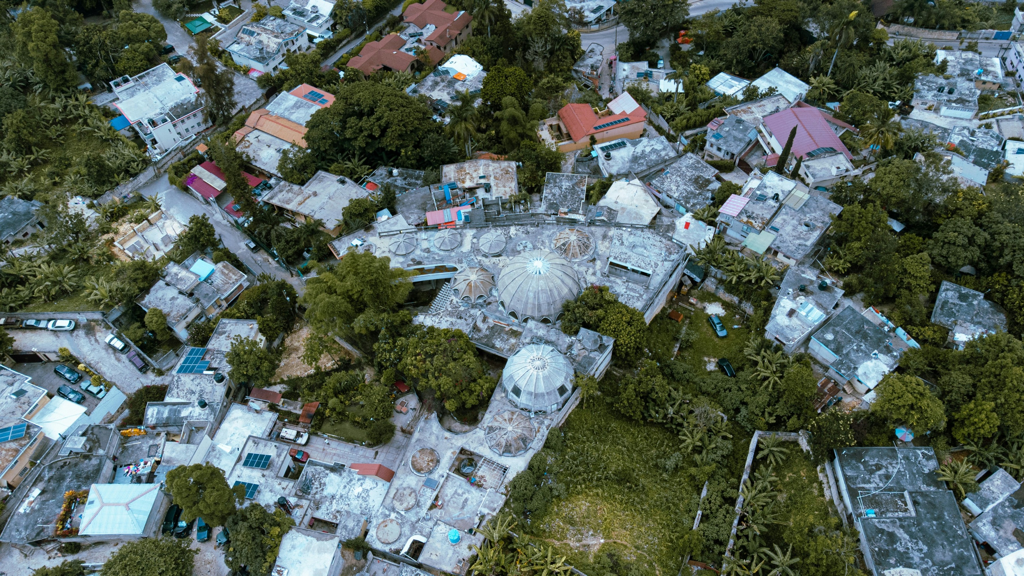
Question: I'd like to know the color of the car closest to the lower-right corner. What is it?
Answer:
black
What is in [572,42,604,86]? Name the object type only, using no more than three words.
house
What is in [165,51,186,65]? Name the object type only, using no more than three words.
car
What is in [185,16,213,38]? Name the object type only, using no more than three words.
building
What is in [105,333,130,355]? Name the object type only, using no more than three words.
car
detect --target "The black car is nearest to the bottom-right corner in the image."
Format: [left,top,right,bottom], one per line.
[715,354,740,379]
